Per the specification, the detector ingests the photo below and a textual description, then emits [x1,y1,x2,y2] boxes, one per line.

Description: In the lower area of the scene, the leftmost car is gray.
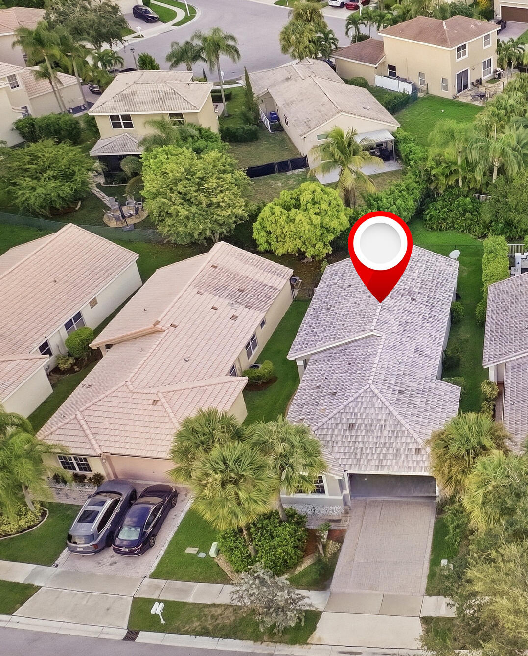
[61,480,133,550]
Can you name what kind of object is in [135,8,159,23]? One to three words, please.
car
